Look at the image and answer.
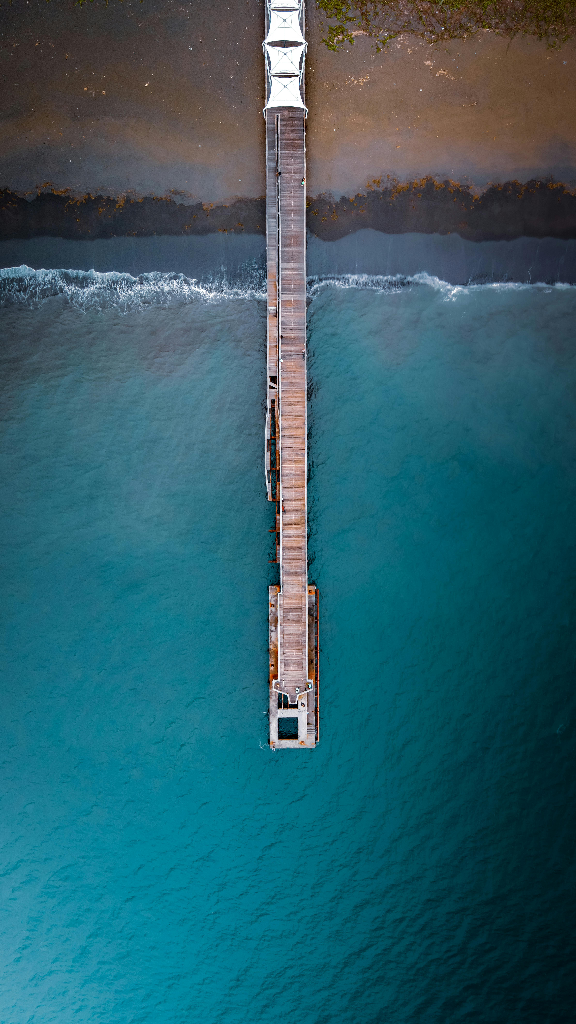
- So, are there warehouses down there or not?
No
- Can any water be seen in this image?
Yes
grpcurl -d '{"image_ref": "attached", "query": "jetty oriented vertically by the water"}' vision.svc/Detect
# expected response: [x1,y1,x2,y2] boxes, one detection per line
[266,0,314,704]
